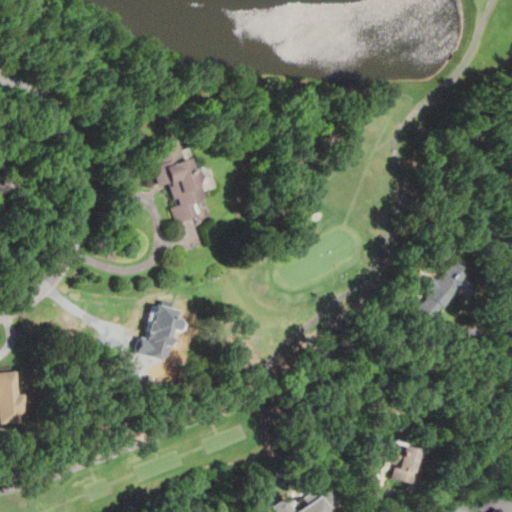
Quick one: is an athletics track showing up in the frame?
No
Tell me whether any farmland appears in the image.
No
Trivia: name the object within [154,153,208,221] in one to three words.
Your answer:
house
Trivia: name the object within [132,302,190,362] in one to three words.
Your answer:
house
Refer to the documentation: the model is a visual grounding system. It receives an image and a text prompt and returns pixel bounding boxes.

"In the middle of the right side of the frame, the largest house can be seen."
[418,265,469,316]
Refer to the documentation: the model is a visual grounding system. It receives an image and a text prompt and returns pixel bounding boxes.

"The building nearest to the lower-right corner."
[390,446,422,484]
